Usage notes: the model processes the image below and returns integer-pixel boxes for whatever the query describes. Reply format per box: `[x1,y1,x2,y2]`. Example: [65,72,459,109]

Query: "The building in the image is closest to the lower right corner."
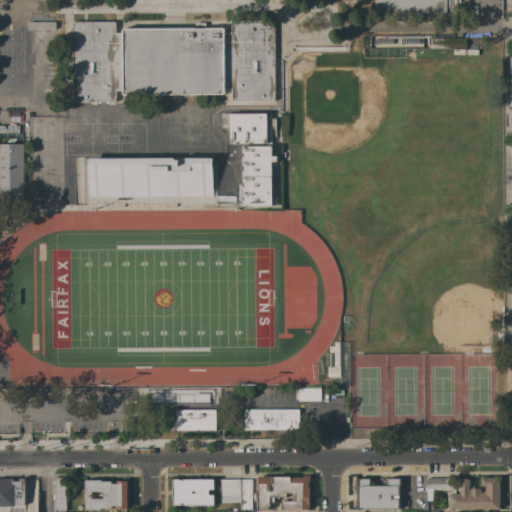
[450,478,500,512]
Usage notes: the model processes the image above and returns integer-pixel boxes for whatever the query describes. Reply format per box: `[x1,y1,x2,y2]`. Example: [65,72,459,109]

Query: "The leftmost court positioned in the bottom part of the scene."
[357,367,383,416]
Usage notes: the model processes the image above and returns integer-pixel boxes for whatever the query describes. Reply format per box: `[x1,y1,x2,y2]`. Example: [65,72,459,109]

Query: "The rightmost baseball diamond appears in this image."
[432,282,503,354]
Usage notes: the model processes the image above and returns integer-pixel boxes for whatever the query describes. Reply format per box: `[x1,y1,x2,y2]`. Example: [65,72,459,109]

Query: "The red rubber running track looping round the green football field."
[0,210,344,386]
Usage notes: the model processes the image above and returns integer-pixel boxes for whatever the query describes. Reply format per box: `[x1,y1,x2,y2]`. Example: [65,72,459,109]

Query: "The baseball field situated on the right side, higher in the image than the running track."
[292,58,387,154]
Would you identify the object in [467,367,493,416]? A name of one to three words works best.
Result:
tennis court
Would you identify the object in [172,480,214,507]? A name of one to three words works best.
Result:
building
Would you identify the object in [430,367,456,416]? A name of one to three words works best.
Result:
tennis court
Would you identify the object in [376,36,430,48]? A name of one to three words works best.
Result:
shed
